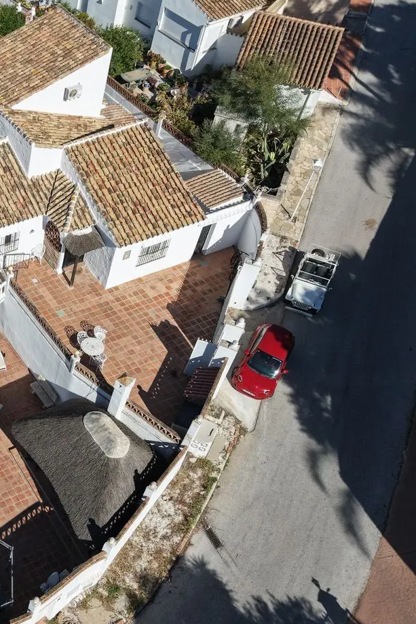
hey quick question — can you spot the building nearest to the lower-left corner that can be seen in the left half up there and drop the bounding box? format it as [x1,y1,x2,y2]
[11,398,163,552]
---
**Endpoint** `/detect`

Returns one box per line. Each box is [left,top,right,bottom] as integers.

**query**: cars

[233,319,302,399]
[284,238,347,318]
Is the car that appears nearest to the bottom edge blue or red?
red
